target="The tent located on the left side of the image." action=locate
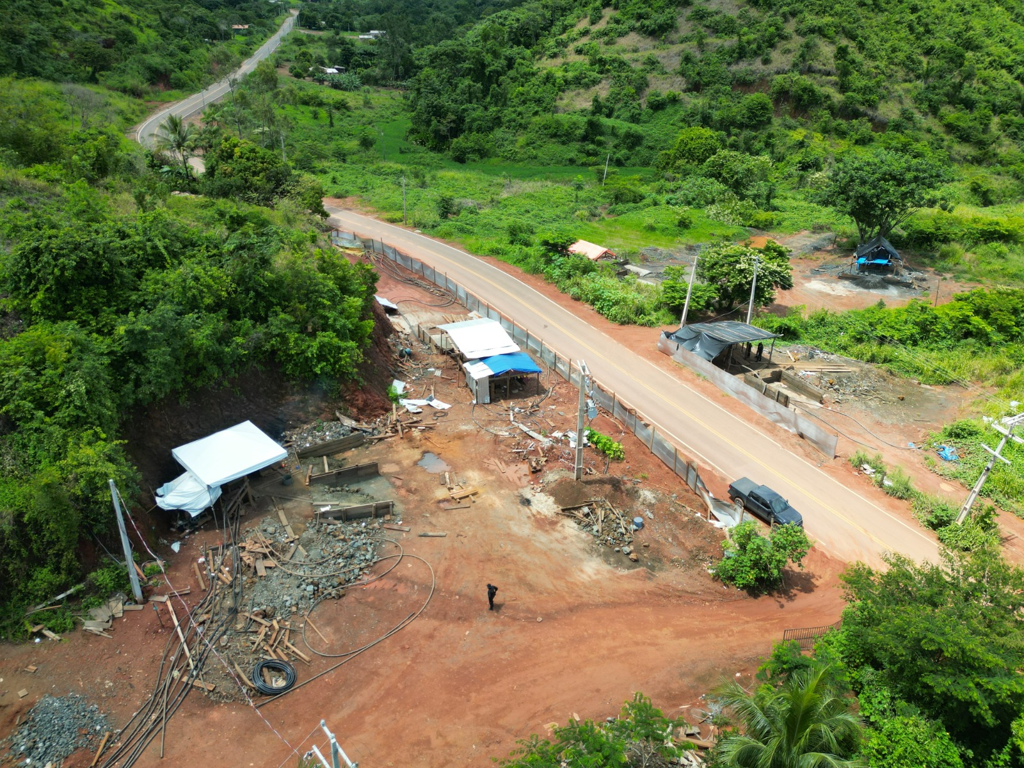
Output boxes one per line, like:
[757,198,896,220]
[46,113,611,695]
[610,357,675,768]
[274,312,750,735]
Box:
[171,420,291,516]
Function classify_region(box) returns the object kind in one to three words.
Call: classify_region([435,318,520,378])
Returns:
shed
